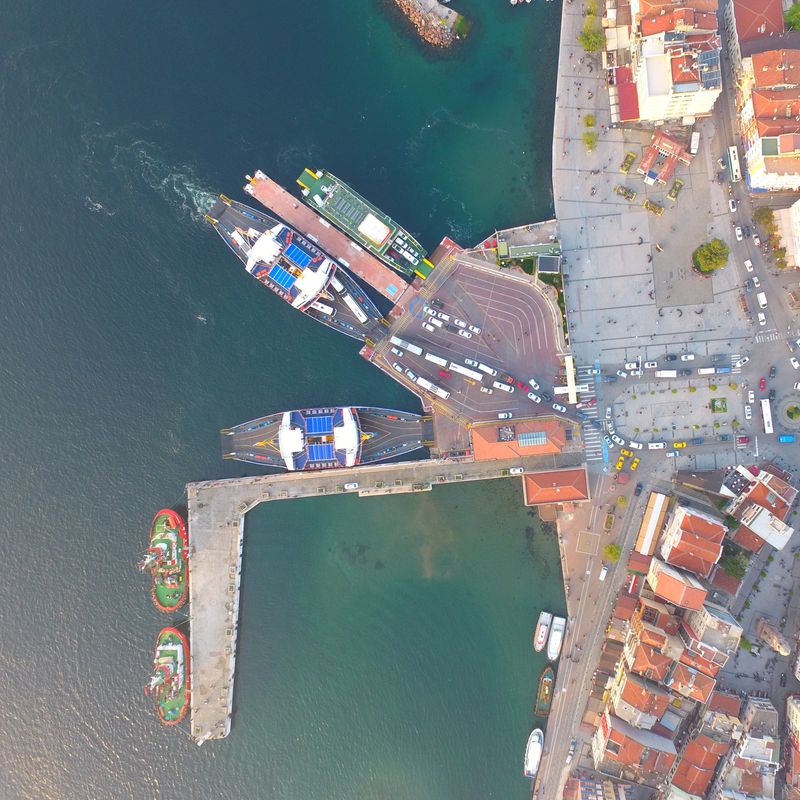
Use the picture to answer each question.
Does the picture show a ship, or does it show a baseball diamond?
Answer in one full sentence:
Of the two, only a ship appears.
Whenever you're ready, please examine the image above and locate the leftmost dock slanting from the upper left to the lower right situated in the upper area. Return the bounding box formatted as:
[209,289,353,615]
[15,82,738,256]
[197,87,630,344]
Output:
[245,168,409,303]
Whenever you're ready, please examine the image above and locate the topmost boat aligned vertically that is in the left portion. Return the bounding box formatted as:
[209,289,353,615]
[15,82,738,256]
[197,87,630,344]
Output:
[147,508,191,612]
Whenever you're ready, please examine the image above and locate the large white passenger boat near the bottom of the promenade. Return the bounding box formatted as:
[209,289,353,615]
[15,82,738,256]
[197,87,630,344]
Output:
[523,727,545,777]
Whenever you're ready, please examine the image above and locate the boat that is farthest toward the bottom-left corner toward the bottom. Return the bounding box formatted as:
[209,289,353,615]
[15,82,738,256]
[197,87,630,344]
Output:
[149,626,193,727]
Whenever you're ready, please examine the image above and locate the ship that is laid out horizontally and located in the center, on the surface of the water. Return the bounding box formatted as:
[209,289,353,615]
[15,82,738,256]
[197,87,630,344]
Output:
[220,407,435,471]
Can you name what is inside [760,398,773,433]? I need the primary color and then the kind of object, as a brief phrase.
white vehicle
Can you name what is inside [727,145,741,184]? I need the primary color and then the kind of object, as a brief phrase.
white vehicle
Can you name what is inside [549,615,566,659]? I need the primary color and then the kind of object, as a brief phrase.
white boat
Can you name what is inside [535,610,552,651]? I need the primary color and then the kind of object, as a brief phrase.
white boat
